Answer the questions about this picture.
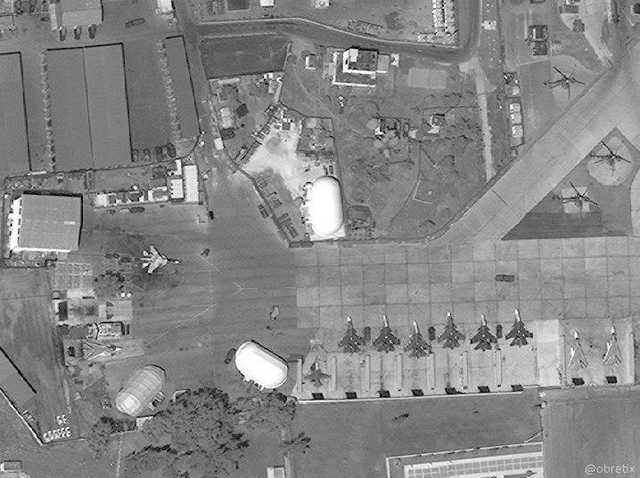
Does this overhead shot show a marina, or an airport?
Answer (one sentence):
It's an airport.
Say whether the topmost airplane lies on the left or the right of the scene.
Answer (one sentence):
The topmost airplane sits on the left side.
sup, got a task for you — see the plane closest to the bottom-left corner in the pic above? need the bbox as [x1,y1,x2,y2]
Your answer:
[84,342,122,360]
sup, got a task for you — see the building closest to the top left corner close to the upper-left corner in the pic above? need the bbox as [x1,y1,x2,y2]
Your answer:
[51,0,102,29]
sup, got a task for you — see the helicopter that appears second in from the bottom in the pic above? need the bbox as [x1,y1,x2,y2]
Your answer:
[590,142,631,176]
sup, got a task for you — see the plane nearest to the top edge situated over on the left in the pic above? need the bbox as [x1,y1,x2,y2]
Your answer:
[141,247,181,274]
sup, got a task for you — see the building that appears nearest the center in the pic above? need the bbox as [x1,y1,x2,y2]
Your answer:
[303,177,342,236]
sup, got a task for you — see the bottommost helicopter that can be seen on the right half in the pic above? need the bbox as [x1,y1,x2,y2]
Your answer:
[557,182,598,217]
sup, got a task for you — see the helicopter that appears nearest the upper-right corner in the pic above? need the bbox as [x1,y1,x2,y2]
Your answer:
[542,64,586,99]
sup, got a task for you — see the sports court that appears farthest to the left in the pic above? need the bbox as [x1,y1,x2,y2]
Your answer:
[408,67,446,89]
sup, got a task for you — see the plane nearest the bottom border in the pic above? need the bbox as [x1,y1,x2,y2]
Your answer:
[303,361,332,387]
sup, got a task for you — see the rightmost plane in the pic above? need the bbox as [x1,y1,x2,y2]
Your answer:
[605,326,622,364]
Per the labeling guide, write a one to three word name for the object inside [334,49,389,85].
building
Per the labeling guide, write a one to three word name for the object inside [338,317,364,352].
airplane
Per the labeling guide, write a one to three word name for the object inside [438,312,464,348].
airplane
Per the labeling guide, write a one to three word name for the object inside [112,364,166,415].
hangar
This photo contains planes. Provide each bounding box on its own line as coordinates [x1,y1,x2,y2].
[605,326,622,364]
[404,321,431,357]
[84,342,122,360]
[471,314,497,350]
[141,247,181,274]
[569,331,587,368]
[303,361,332,387]
[374,316,399,352]
[338,317,364,352]
[506,310,532,346]
[438,312,464,348]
